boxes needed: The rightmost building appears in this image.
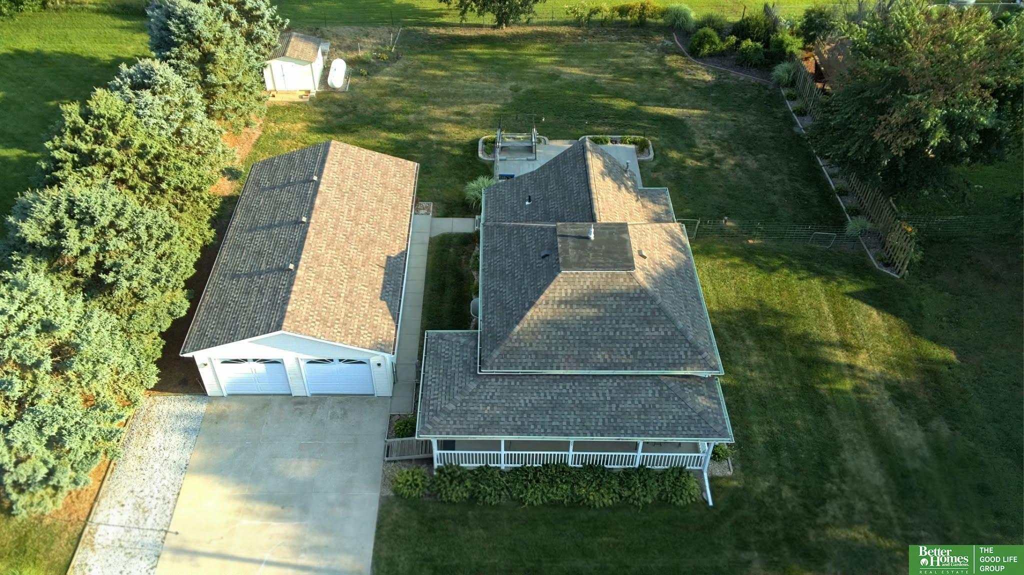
[413,138,737,508]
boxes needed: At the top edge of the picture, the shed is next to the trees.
[262,28,322,93]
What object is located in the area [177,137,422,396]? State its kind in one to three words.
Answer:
building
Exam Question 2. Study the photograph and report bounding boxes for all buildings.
[177,137,422,396]
[262,28,322,93]
[413,138,737,508]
